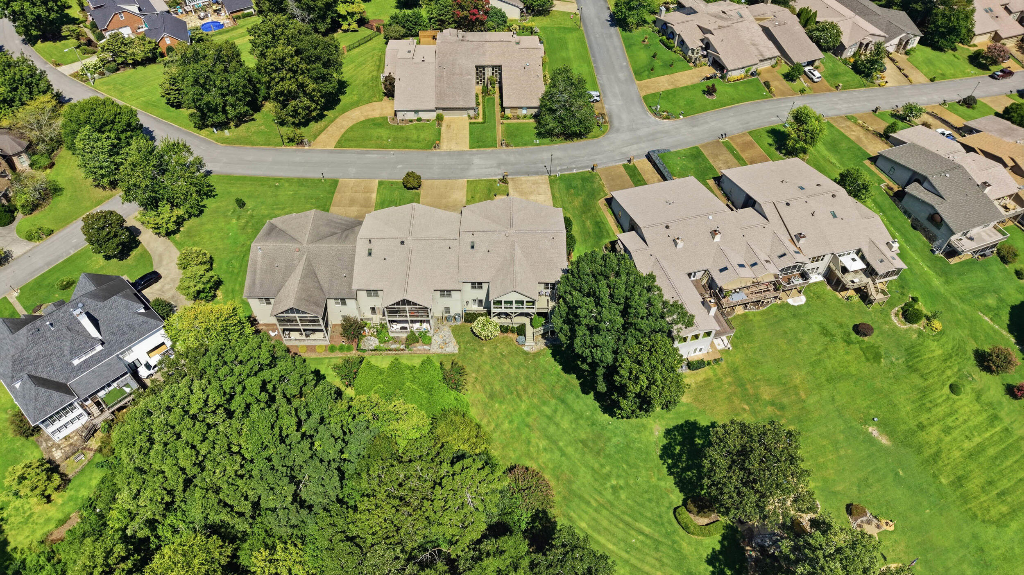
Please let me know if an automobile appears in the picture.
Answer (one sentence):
Yes, there is an automobile in the image.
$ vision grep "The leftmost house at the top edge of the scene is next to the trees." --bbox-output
[87,0,193,55]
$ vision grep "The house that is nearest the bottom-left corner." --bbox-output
[0,272,169,443]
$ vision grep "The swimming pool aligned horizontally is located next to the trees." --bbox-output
[197,21,229,33]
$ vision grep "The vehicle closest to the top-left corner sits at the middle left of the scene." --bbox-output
[129,267,166,294]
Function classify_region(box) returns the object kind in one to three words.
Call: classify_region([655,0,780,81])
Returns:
house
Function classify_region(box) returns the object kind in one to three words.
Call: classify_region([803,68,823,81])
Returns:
vehicle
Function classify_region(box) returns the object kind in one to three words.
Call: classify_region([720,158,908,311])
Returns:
house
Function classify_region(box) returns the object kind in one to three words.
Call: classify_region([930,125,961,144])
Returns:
vehicle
